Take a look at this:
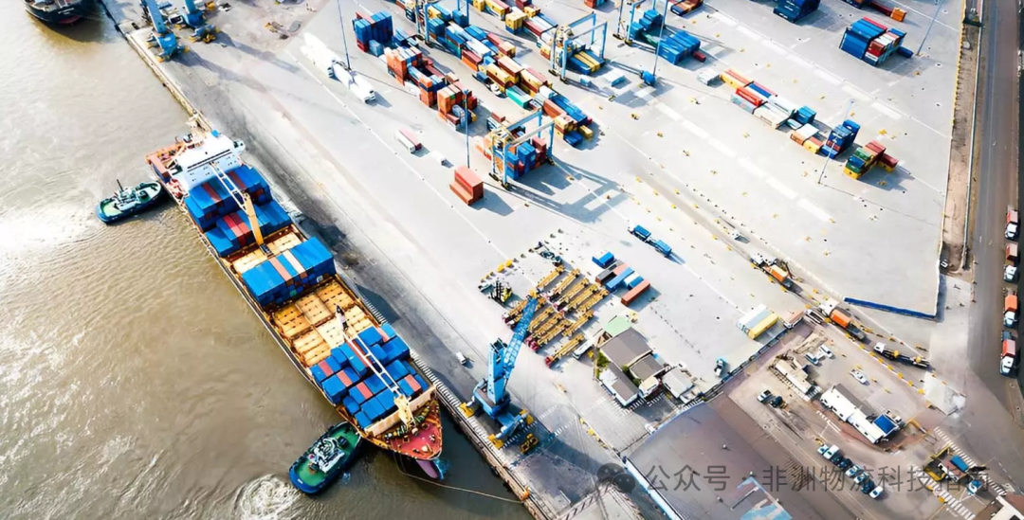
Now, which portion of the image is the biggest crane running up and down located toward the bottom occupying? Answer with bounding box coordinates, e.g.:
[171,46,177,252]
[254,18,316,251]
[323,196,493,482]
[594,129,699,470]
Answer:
[467,289,537,443]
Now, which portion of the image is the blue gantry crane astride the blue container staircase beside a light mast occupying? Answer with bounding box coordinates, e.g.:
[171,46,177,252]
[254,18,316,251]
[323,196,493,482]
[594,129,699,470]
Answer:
[613,0,671,46]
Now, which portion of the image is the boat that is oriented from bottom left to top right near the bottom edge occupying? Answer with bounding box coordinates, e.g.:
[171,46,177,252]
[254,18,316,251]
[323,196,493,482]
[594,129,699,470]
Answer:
[283,424,369,501]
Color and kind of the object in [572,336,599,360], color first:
white bus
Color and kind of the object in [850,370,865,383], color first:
white vehicle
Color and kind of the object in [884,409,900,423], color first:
white car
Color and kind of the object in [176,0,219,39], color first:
blue crane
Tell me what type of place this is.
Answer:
port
